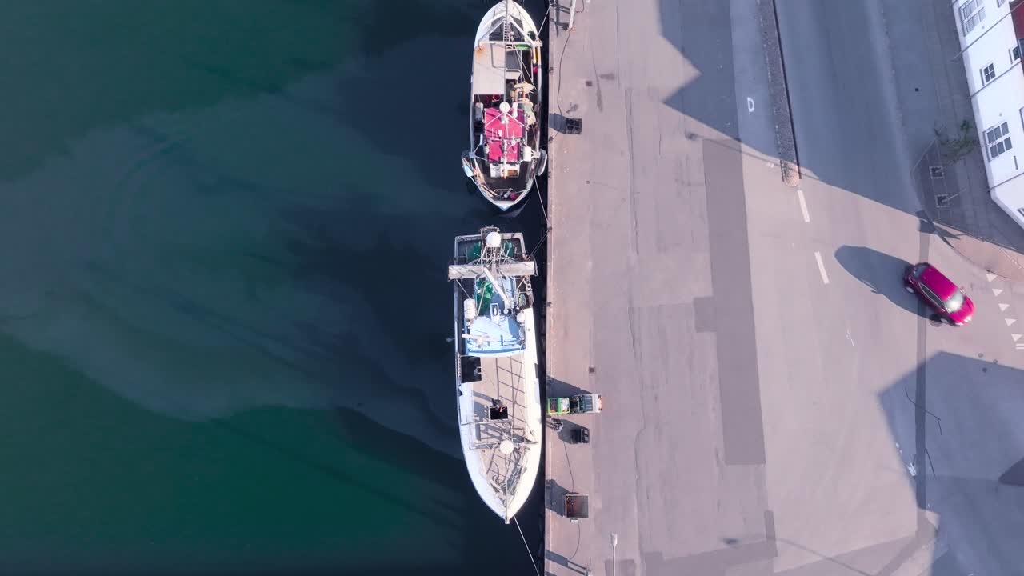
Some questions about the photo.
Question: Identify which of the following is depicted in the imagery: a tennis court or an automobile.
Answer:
automobile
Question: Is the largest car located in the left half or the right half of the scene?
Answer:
right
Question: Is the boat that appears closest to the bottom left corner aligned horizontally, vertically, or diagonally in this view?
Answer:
vertically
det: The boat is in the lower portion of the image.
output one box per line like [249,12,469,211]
[447,224,542,526]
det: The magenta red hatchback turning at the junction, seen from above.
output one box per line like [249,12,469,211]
[903,262,976,327]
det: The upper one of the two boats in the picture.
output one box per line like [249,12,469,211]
[461,0,548,211]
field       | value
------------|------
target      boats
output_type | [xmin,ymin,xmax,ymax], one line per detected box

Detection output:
[461,0,548,211]
[447,224,542,526]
